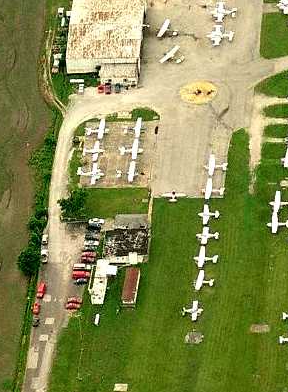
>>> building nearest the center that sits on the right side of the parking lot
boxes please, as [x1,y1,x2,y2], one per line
[102,214,151,266]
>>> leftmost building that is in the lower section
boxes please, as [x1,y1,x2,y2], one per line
[86,257,123,312]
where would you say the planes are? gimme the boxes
[203,155,226,175]
[278,0,288,12]
[78,163,103,183]
[156,20,177,37]
[269,191,288,212]
[279,337,288,344]
[193,270,214,291]
[80,140,105,160]
[211,1,237,21]
[159,45,184,63]
[201,178,224,199]
[198,204,219,225]
[180,301,202,320]
[194,247,216,268]
[157,189,187,206]
[197,227,217,244]
[120,139,144,159]
[209,24,234,45]
[125,118,147,138]
[266,212,288,234]
[281,151,288,168]
[88,119,110,139]
[118,161,140,182]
